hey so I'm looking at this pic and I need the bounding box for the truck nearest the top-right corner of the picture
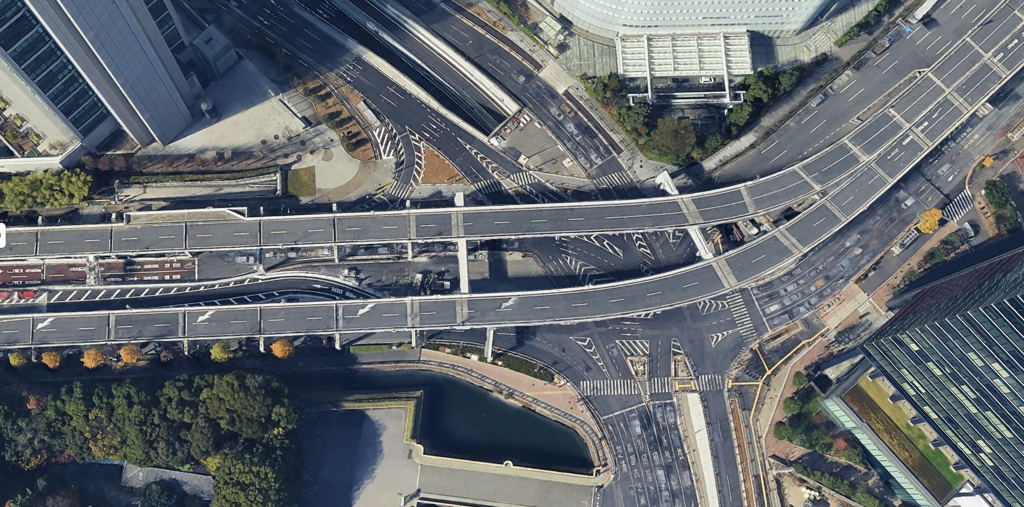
[909,0,944,27]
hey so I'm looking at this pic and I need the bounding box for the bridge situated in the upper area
[0,0,1024,294]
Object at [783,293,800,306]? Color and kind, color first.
gray vehicle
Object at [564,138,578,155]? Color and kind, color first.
gray car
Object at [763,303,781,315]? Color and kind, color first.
white vehicle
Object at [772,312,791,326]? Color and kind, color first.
gray vehicle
